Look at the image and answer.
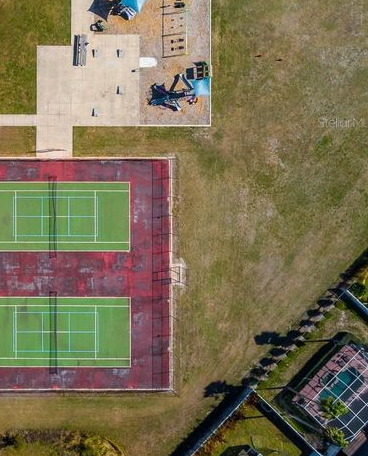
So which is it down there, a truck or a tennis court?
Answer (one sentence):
The one in the frame is a tennis court.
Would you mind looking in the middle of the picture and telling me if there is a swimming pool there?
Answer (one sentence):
No, I can find no swimming pool in the middle of the picture.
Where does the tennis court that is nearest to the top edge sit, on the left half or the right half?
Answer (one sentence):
The tennis court that is nearest to the top edge appears in the left half of the scene.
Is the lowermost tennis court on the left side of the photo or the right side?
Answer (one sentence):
It is on the left.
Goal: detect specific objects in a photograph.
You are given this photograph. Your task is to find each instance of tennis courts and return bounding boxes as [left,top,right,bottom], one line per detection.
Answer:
[0,178,131,256]
[0,293,131,372]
